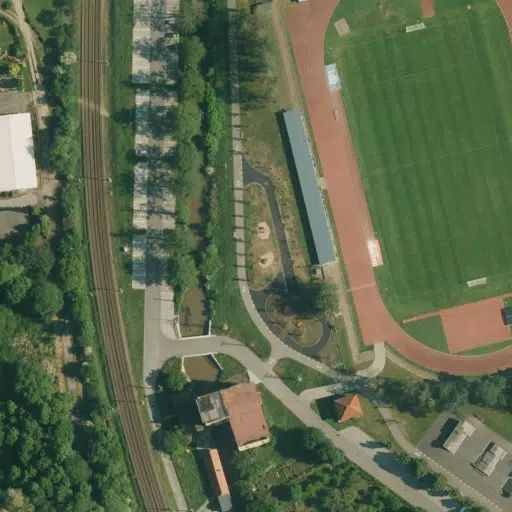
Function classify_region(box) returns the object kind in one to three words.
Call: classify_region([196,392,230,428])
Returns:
building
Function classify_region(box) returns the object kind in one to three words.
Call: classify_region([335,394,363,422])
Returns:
house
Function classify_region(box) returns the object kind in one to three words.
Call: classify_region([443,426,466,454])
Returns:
building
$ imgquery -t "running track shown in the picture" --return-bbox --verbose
[284,0,512,376]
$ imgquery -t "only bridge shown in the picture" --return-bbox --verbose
[178,316,223,384]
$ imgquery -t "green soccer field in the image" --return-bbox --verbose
[324,0,512,356]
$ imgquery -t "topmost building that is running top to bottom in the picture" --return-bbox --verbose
[0,112,38,194]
